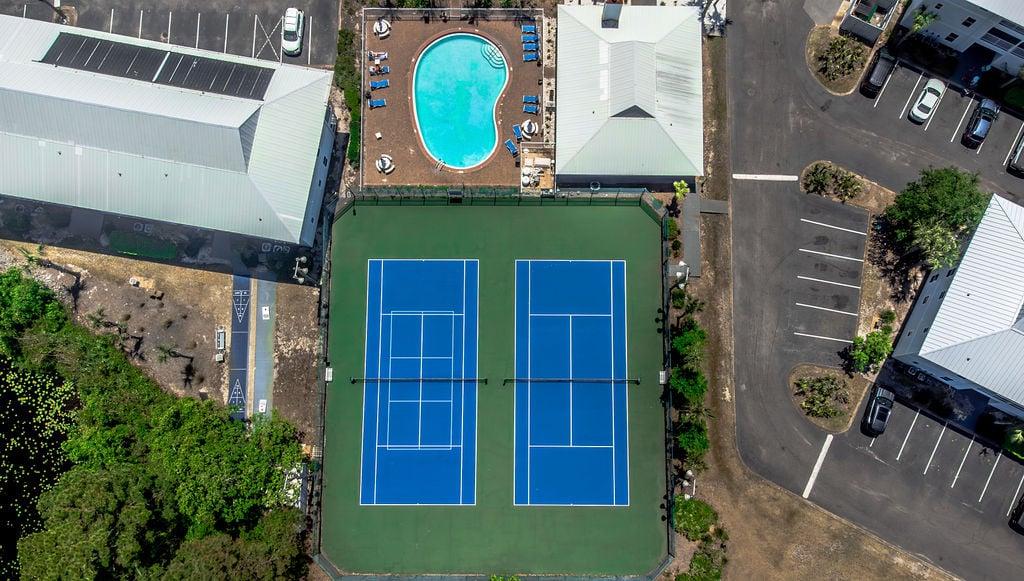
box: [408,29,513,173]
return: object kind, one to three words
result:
swimming pool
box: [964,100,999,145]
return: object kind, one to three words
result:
car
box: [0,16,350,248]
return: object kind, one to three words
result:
building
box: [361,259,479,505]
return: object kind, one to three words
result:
tennis court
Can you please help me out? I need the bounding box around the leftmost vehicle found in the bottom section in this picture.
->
[863,387,898,438]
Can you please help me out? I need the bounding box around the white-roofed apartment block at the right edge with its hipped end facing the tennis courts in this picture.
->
[892,192,1024,418]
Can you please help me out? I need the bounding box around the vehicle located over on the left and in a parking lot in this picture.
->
[280,10,304,56]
